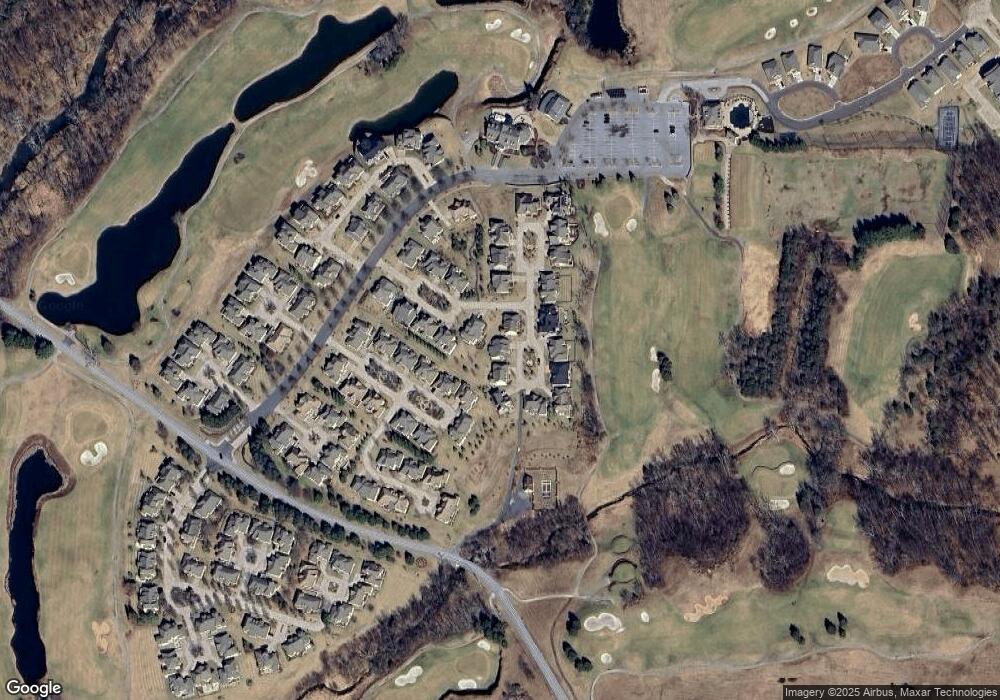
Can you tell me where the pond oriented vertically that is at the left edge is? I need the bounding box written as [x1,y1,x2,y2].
[8,449,62,688]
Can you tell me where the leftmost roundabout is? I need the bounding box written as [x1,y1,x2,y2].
[771,78,842,126]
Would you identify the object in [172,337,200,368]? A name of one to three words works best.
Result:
house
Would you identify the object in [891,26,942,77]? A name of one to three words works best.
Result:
roundabout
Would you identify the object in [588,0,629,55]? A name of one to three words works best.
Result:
pond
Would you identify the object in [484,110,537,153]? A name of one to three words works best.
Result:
building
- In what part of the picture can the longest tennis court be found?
top right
